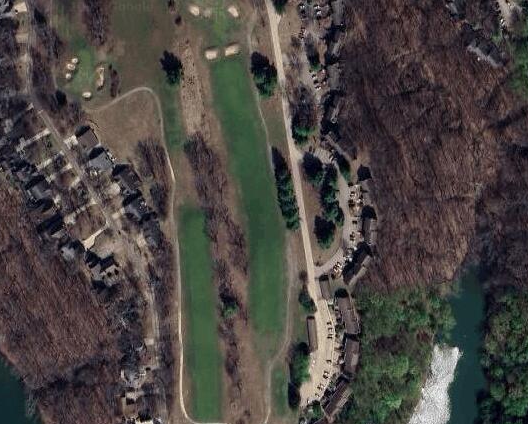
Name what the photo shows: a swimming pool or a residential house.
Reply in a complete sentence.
The one in the frame is a residential house.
